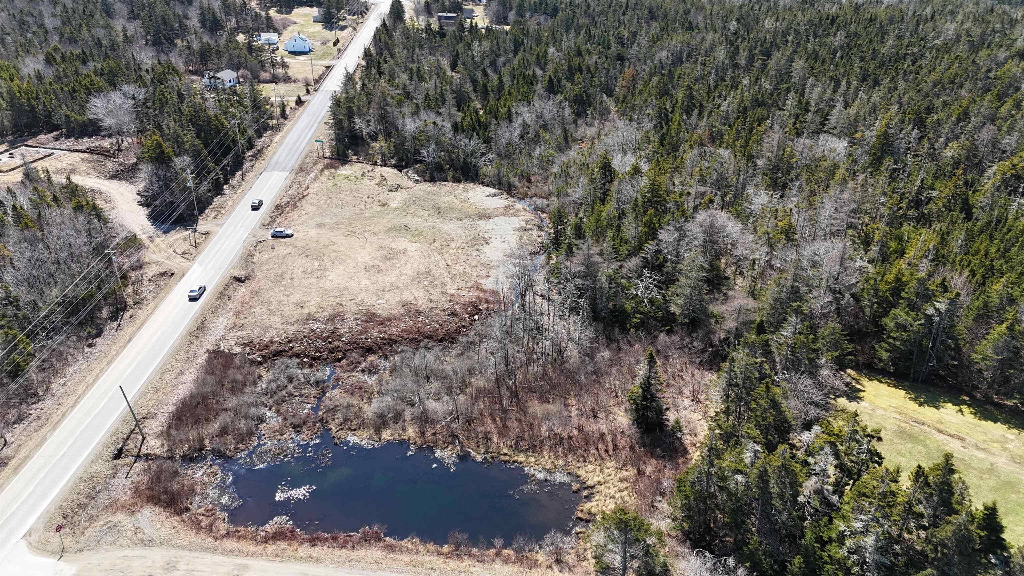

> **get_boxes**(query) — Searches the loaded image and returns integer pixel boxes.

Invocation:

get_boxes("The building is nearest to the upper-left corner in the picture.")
[207,68,244,87]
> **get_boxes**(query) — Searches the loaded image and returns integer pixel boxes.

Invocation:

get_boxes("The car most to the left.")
[187,286,206,301]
